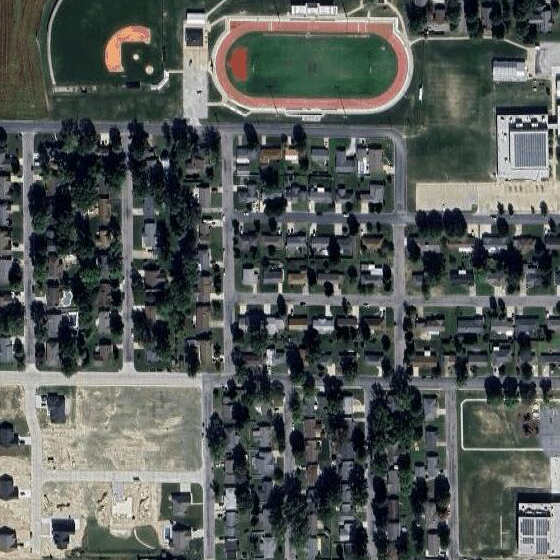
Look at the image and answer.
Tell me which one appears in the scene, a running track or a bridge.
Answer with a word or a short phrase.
running track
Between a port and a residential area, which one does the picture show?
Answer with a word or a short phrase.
residential area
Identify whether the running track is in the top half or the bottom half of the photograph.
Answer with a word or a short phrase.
top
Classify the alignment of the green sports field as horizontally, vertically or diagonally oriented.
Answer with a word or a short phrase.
horizontally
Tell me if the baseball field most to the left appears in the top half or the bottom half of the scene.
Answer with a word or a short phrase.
top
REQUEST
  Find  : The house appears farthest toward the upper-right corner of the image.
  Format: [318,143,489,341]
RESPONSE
[529,11,552,34]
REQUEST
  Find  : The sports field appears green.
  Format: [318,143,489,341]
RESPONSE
[226,32,398,98]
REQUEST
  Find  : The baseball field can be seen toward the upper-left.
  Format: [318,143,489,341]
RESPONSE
[49,0,164,87]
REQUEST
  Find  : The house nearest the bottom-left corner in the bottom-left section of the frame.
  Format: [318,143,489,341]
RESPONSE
[0,532,21,551]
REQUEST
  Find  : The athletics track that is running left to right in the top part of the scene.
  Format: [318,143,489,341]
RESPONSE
[213,16,411,111]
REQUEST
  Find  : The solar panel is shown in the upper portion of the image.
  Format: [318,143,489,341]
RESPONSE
[514,133,545,169]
